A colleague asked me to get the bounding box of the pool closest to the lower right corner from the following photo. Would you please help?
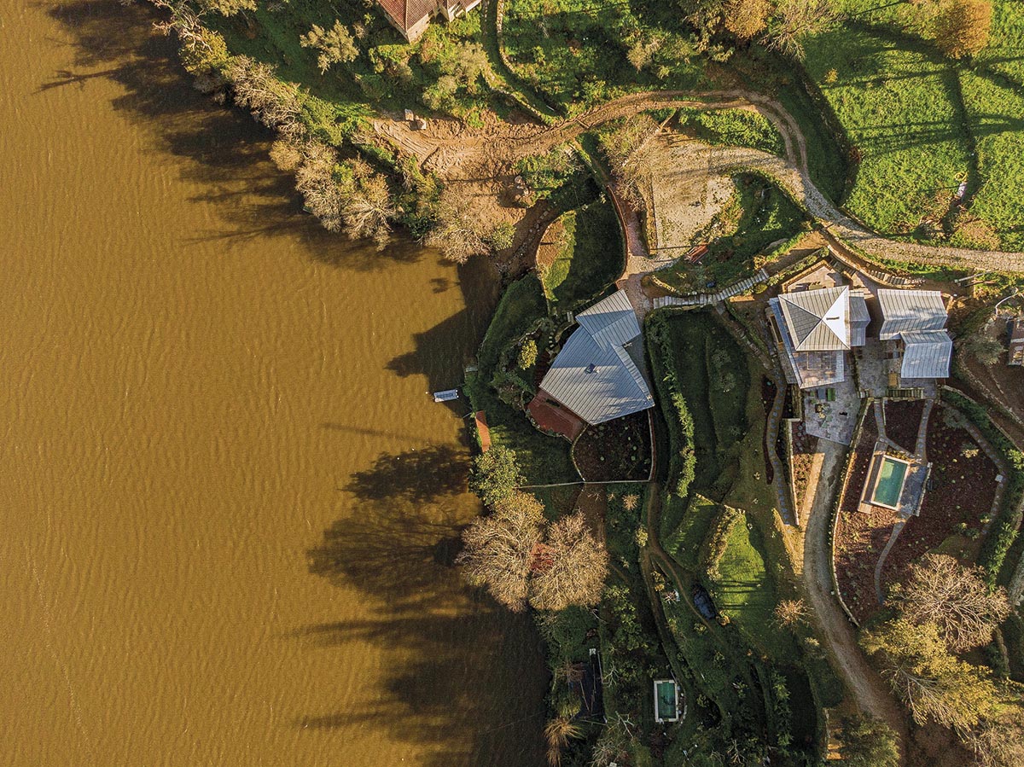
[856,443,910,513]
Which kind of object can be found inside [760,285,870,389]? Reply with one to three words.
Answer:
house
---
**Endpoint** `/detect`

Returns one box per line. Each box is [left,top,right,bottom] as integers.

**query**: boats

[433,389,459,402]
